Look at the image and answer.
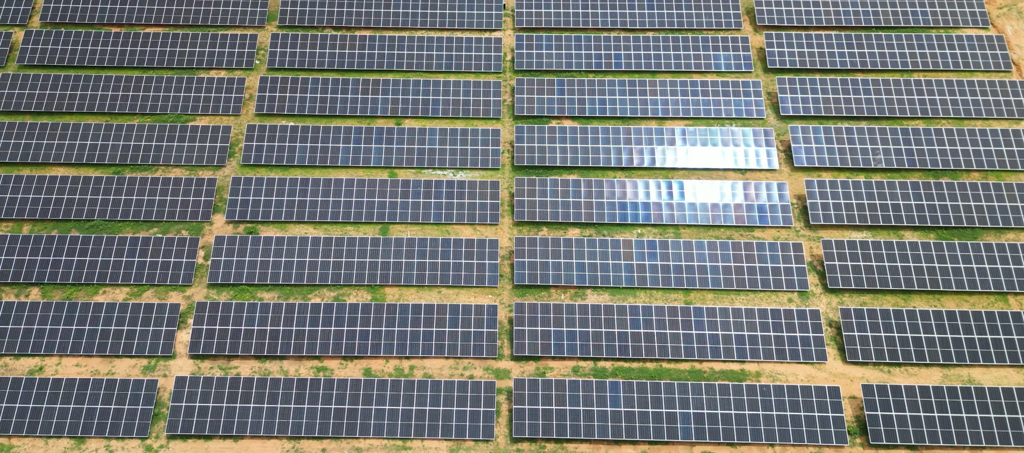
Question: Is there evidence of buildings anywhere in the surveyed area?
No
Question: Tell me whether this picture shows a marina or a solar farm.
solar farm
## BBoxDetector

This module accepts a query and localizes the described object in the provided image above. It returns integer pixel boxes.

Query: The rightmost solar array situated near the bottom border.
[861,384,1024,445]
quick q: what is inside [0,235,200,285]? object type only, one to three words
solar array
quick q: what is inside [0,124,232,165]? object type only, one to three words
solar array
